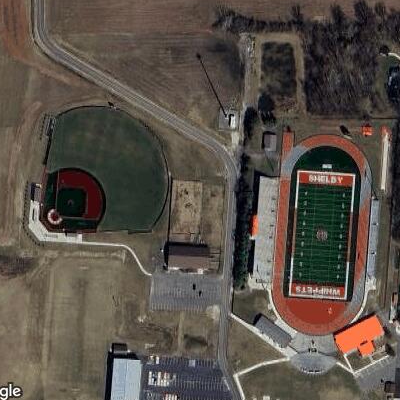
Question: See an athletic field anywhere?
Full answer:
Yes, there is an athletic field in the image.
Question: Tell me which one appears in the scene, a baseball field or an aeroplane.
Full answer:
This aerial view contains a baseball field.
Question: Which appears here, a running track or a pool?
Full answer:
Of the two, only a running track appears.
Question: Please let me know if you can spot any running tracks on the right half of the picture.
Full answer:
Yes, looking on the right half of the picture, one can make out a running track.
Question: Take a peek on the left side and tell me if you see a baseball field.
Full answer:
Yes, I can see a baseball field on the left side.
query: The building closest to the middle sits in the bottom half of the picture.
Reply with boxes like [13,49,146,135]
[166,245,210,271]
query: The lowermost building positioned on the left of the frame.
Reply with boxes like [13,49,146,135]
[111,359,142,400]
